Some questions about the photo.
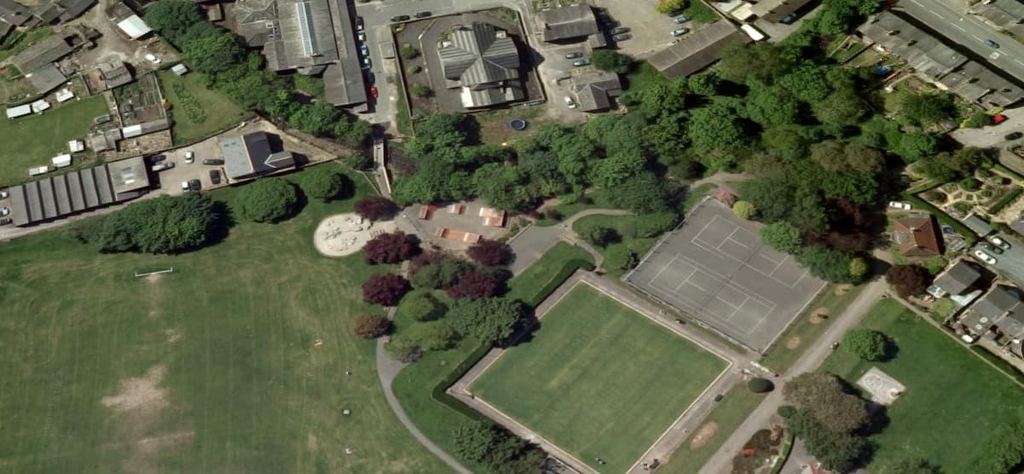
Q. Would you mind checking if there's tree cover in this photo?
Yes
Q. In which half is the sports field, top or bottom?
bottom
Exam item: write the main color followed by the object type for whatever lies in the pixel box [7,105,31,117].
white vehicle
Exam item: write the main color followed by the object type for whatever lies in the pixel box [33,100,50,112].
white vehicle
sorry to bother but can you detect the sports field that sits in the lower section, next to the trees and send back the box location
[0,164,468,474]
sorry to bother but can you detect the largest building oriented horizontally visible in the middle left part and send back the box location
[9,164,116,227]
